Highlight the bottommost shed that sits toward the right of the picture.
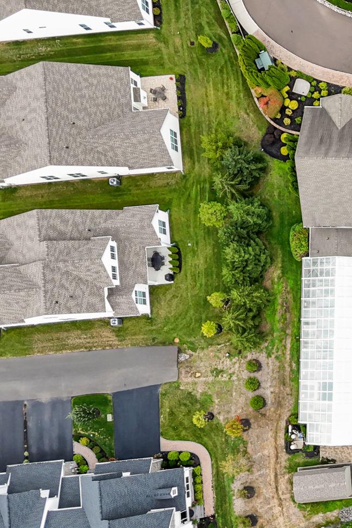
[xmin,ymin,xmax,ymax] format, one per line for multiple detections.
[294,462,352,503]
